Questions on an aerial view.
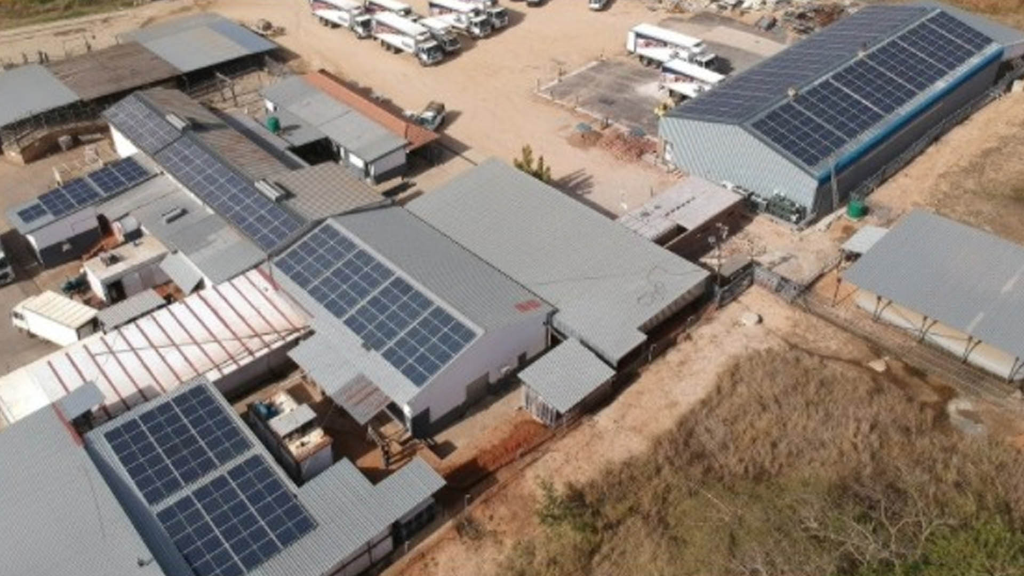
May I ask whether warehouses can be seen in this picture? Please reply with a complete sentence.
Yes, the picture does show a warehouse.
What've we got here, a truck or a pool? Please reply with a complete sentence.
The image shows a truck.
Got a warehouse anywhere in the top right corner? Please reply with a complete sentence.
Yes, I can see a warehouse in the top right corner.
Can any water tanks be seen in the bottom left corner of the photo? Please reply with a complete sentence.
No, in the bottom left corner of the photo there is no water tank.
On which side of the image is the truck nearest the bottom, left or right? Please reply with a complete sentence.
The truck nearest the bottom sits on the left side.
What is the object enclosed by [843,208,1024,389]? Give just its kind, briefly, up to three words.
shed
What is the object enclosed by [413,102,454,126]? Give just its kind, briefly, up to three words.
truck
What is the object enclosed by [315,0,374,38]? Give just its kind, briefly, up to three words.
truck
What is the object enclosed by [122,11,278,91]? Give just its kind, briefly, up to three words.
shed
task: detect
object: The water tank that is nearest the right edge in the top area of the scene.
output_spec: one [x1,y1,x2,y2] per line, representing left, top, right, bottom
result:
[844,197,870,222]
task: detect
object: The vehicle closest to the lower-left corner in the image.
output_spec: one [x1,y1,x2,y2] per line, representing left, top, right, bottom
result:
[0,290,95,348]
